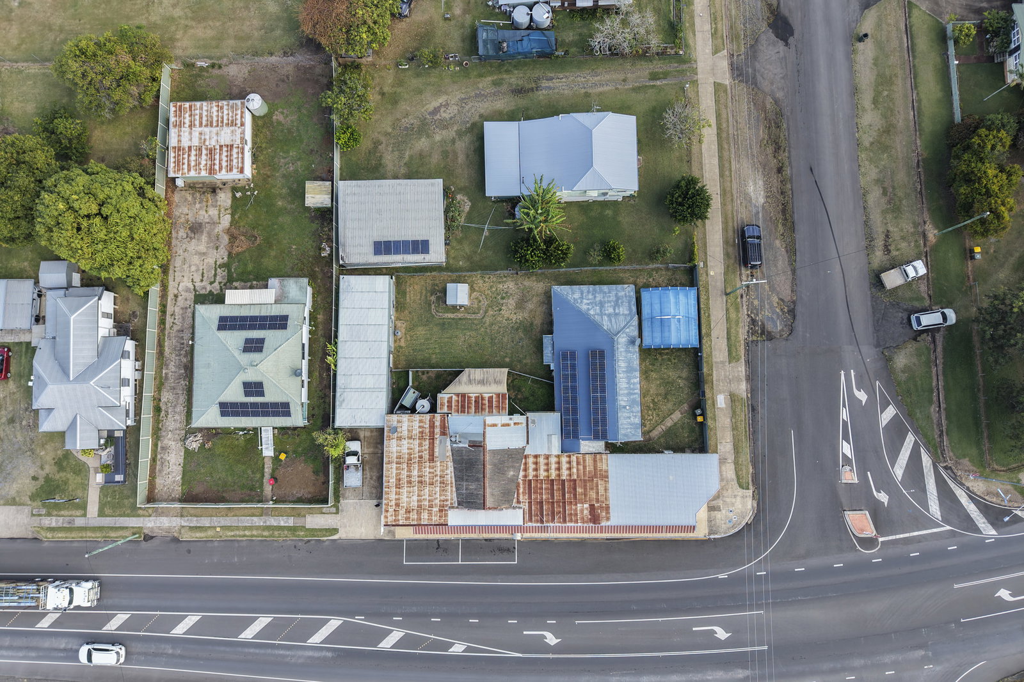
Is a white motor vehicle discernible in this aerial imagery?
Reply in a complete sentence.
Yes, you can see a white motor vehicle in this photo.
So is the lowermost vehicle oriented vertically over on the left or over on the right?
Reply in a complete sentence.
It is on the left.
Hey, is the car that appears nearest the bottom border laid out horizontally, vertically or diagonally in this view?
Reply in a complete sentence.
The car that appears nearest the bottom border is oriented horizontally.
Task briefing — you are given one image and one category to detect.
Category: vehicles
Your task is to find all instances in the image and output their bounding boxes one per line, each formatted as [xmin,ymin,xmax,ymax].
[745,220,769,270]
[911,306,957,331]
[397,0,416,17]
[78,644,125,667]
[877,259,929,291]
[340,441,362,491]
[0,582,101,616]
[0,344,10,382]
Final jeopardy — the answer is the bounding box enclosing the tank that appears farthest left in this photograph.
[242,88,269,115]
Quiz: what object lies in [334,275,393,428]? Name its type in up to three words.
shed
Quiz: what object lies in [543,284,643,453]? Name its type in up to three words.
house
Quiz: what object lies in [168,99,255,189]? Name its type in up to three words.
shed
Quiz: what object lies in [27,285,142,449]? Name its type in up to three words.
house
